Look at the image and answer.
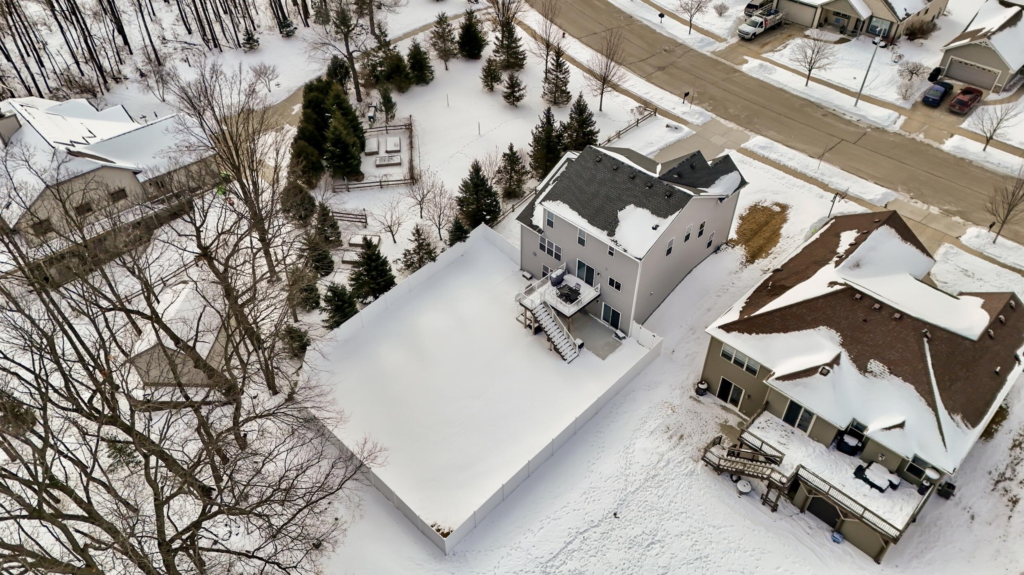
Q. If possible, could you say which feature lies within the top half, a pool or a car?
car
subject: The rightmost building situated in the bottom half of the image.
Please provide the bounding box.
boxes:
[698,206,1024,553]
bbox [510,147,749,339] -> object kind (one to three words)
house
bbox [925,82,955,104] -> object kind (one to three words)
car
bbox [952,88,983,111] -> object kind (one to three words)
car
